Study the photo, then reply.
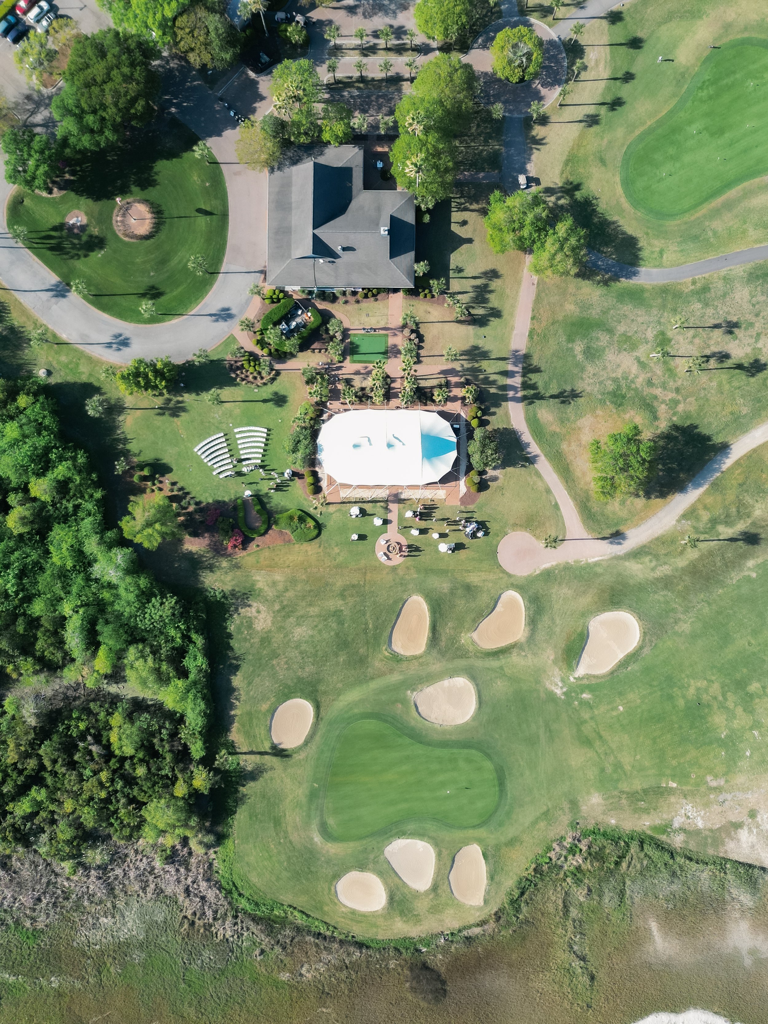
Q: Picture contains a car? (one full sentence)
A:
Yes, there's a car here.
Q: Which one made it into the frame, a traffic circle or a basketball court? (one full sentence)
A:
This aerial view contains a traffic circle.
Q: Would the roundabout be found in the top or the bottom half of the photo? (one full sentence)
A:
Seen from above, the roundabout lies in the top half of the view.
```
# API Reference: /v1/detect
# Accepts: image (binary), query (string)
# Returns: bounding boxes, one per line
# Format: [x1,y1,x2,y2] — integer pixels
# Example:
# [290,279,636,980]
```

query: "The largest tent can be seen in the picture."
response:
[314,402,469,501]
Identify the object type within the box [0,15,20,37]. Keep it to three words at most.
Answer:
car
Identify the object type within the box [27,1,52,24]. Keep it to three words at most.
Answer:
car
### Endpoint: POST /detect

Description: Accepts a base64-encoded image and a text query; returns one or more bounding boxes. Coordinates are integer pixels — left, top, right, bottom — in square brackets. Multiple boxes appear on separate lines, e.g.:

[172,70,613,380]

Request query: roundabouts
[470,17,567,115]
